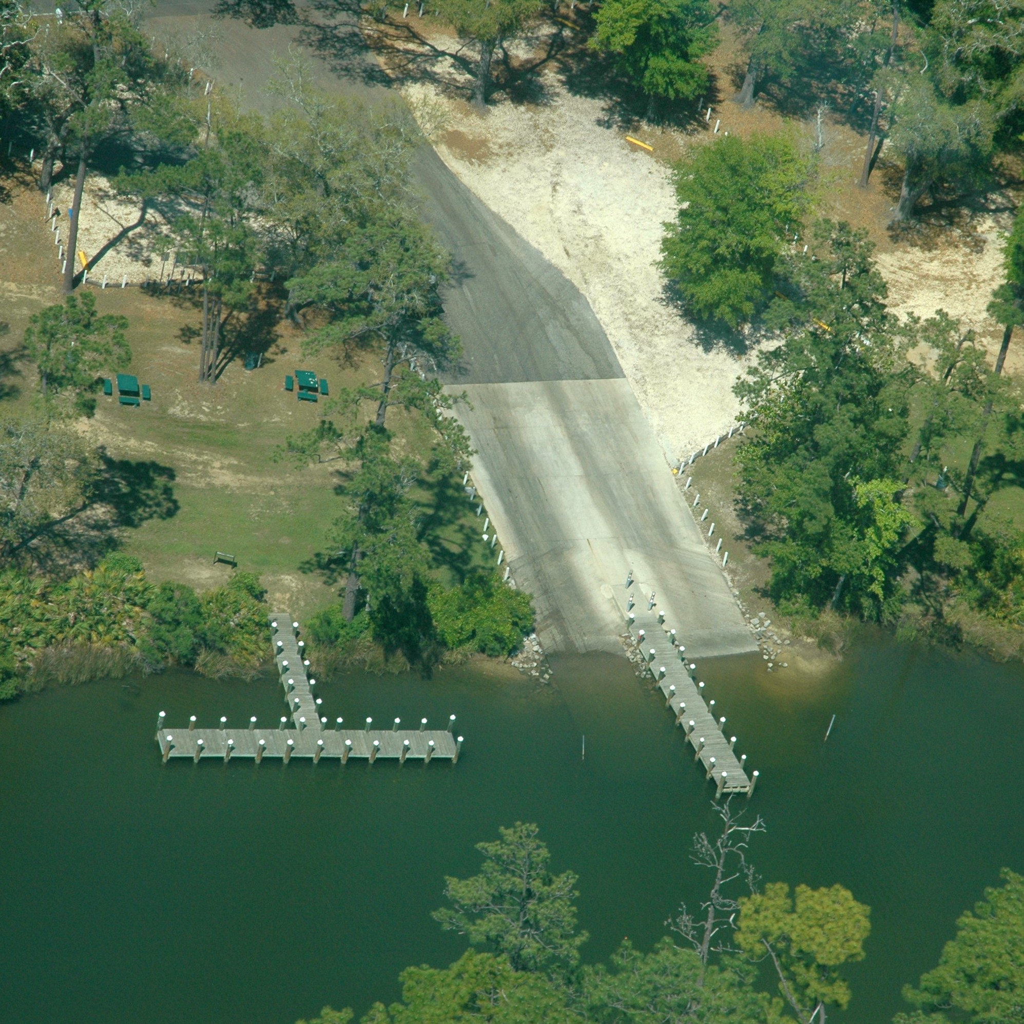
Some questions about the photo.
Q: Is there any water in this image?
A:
Yes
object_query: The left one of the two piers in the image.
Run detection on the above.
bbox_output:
[156,613,463,766]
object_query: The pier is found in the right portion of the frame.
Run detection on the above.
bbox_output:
[625,612,758,801]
